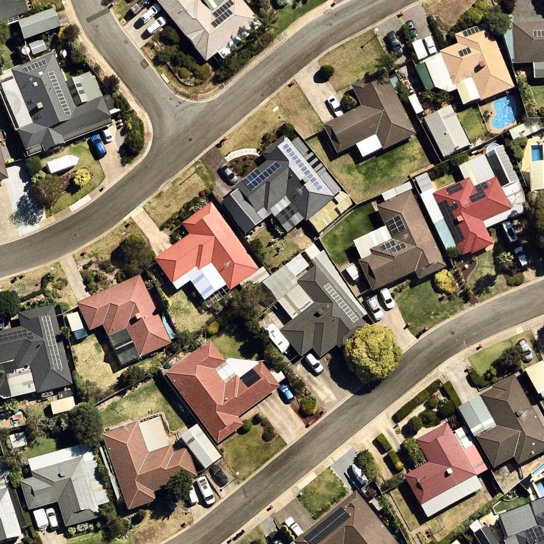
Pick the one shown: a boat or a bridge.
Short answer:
boat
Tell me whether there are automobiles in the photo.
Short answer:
Yes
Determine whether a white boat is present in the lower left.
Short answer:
No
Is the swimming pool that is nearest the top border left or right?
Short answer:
right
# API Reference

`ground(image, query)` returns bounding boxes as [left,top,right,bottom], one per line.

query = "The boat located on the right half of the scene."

[351,463,367,484]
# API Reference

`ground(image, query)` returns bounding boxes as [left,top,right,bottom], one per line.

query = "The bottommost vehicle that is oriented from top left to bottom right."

[284,515,303,539]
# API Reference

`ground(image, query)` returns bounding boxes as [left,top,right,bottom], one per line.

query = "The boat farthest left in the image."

[44,156,78,176]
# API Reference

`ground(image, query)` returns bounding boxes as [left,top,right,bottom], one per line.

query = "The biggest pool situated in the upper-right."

[488,90,518,131]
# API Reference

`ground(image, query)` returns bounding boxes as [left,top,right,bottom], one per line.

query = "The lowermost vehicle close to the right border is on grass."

[519,339,532,362]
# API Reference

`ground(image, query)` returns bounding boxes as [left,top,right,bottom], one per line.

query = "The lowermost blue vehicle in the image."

[279,384,294,403]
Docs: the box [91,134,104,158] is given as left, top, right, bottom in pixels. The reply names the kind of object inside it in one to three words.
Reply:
vehicle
